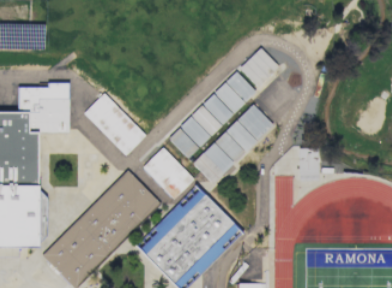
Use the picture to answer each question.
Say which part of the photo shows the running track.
bottom right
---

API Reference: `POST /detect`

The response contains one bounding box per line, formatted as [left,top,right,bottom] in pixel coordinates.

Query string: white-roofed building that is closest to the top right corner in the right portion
[242,47,279,88]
